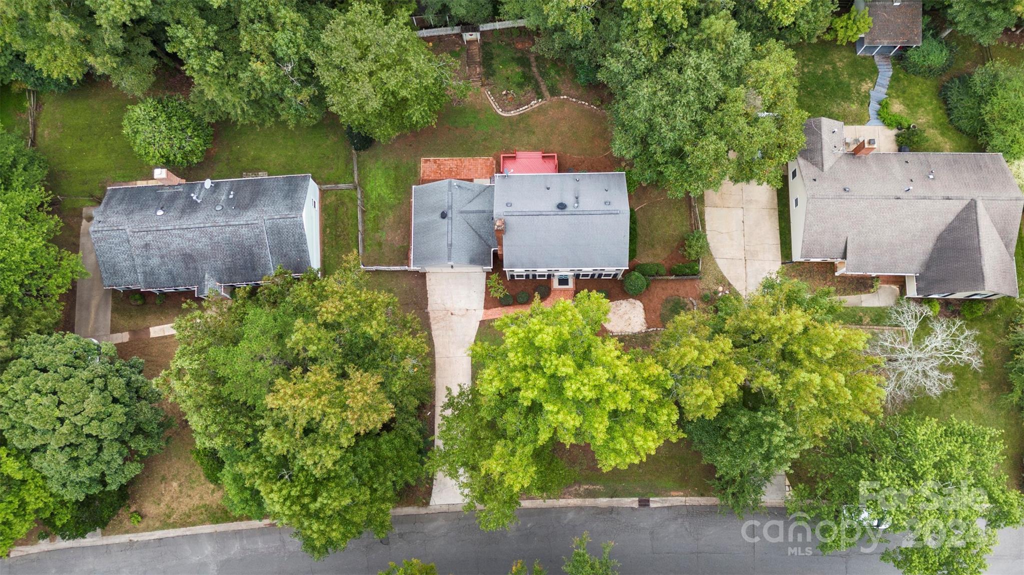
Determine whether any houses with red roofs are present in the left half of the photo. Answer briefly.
No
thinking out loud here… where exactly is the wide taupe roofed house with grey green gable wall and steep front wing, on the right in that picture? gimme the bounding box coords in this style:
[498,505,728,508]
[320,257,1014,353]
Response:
[782,117,1024,302]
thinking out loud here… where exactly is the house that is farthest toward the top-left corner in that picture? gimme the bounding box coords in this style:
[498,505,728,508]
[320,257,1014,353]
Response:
[90,168,324,296]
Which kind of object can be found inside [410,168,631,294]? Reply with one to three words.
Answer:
house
